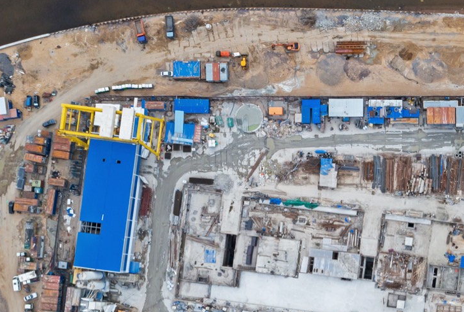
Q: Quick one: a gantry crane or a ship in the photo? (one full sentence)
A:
The image shows a gantry crane.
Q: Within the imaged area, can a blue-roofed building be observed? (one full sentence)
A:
Yes, you can see a blue-roofed building in this photo.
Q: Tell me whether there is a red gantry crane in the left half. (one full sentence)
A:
No, no red gantry crane can be made out in the left half.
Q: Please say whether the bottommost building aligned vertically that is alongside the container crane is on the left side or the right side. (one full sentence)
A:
The bottommost building aligned vertically that is alongside the container crane is on the left side of the image.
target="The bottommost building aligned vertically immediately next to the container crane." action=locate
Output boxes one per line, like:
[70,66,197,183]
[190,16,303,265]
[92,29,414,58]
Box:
[73,140,148,274]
